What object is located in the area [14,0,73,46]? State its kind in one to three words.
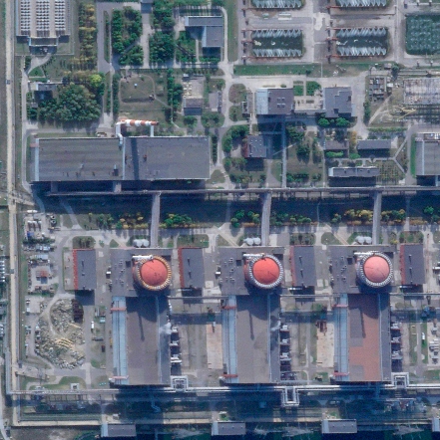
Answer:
building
